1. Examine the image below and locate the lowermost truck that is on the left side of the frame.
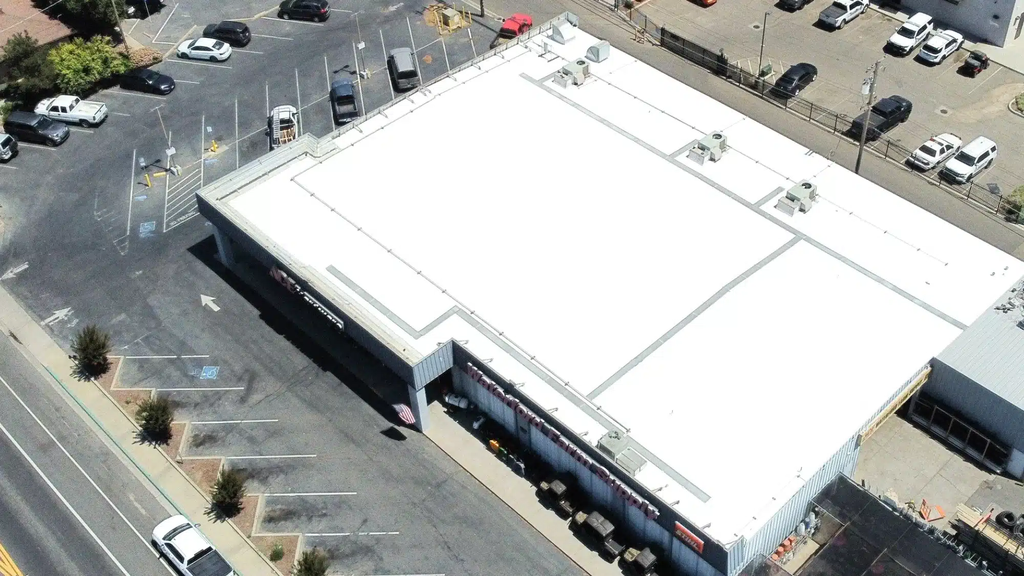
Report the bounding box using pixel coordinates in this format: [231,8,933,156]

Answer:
[154,516,242,576]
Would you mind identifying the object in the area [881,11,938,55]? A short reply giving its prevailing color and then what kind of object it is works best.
white car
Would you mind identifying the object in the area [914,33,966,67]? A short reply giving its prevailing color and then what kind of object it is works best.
white car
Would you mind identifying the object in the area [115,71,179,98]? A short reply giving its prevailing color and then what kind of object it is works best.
black car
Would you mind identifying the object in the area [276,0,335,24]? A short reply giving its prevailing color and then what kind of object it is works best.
black car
